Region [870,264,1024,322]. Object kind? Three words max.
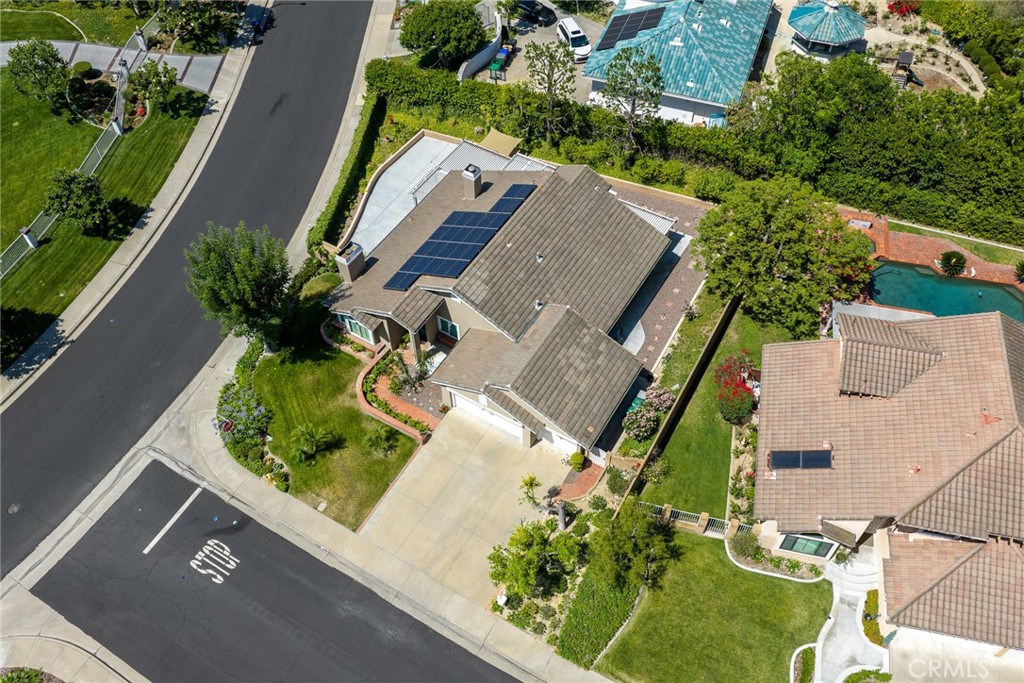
swimming pool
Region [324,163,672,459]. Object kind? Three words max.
house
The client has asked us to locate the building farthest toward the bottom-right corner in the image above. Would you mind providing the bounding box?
[753,310,1024,665]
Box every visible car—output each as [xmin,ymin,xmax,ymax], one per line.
[517,0,552,23]
[559,19,591,62]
